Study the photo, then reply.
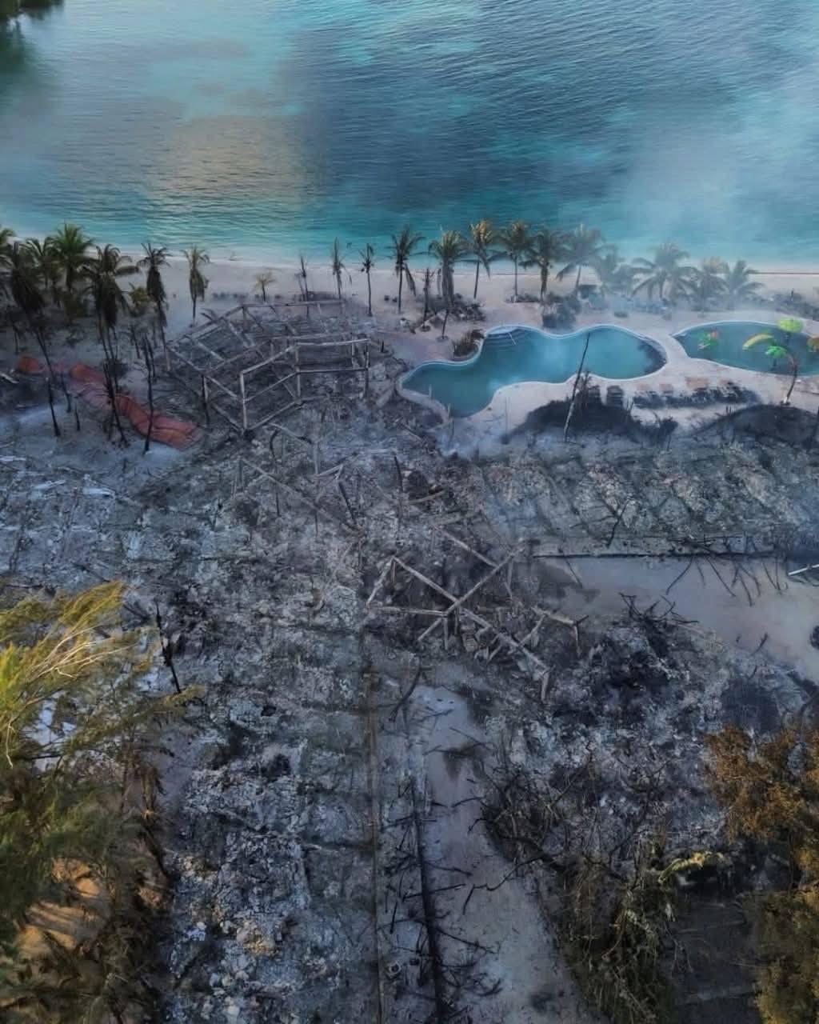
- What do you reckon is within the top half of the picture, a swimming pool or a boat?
swimming pool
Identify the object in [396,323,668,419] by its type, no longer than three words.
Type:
swimming pool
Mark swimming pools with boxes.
[396,323,668,419]
[673,319,819,376]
